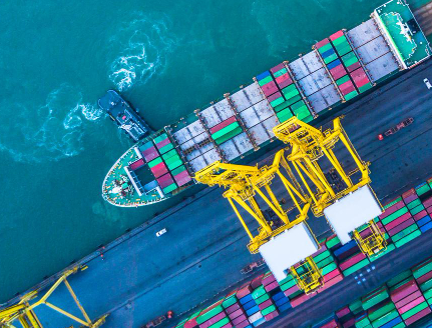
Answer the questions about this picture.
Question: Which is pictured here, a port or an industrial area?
port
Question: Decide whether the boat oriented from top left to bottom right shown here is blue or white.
blue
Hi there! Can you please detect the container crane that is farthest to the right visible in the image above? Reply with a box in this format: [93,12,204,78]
[272,112,391,264]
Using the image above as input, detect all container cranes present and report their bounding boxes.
[0,270,108,328]
[198,145,329,299]
[272,112,391,264]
